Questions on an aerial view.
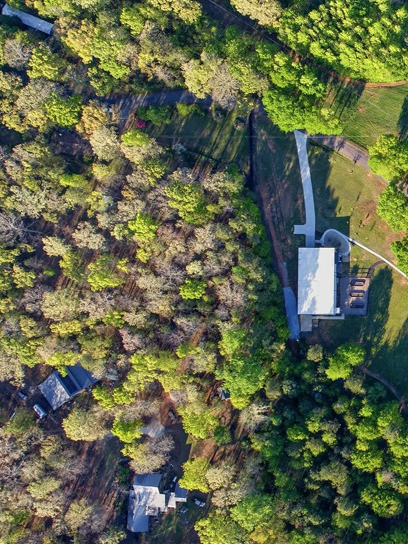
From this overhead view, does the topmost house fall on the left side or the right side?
left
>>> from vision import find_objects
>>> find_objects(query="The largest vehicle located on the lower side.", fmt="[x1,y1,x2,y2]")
[31,404,46,418]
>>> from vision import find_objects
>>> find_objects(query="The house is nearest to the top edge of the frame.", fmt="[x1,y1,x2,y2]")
[2,4,57,37]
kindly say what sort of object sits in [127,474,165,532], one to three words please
house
